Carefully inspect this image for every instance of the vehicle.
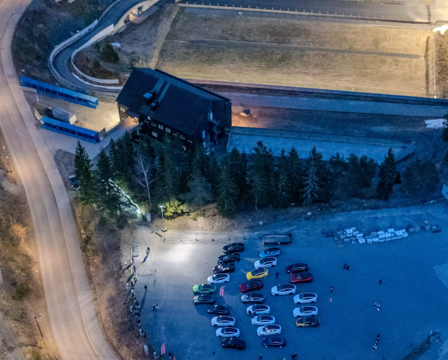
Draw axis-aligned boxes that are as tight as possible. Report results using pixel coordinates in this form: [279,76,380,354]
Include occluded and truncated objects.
[222,240,246,252]
[257,324,282,337]
[247,267,270,280]
[213,261,236,274]
[294,292,318,304]
[252,315,276,326]
[207,304,231,316]
[296,316,321,327]
[291,273,314,284]
[193,293,216,304]
[262,336,287,348]
[211,315,236,327]
[218,250,241,262]
[294,304,318,317]
[255,256,278,269]
[69,173,80,189]
[193,283,217,295]
[286,262,310,274]
[216,326,240,339]
[240,279,263,293]
[247,303,271,316]
[241,293,265,304]
[221,338,247,351]
[272,283,296,296]
[259,246,282,258]
[208,272,231,283]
